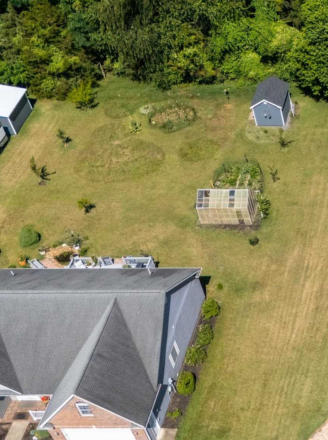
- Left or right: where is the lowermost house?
left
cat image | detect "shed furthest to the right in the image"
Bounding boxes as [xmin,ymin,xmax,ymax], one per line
[250,75,291,126]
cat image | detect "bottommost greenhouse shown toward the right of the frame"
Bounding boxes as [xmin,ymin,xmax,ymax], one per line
[196,189,255,225]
